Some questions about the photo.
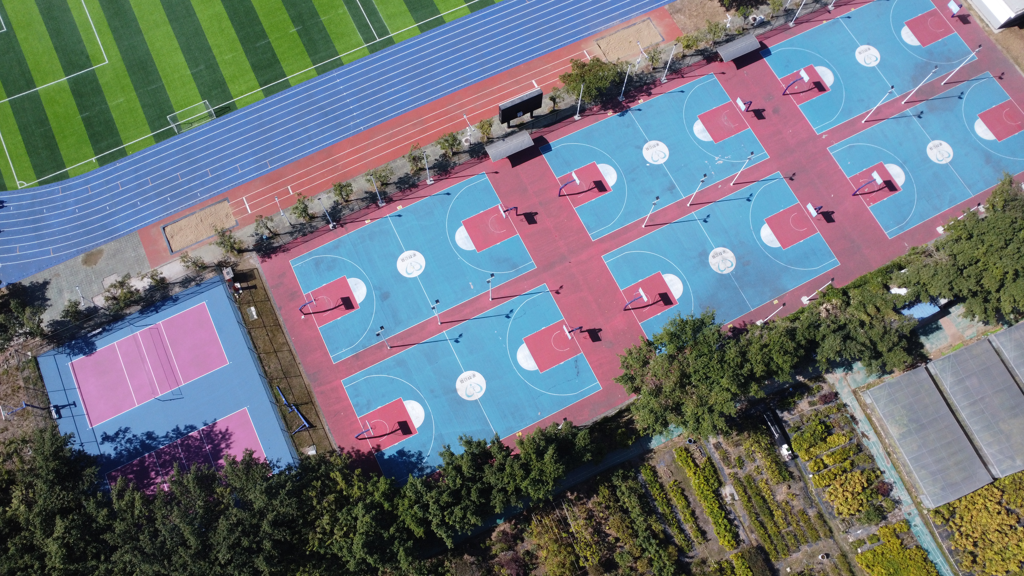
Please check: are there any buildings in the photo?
Yes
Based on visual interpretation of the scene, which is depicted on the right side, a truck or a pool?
truck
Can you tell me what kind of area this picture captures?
sports ground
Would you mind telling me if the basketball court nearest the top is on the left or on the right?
right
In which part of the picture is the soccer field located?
top left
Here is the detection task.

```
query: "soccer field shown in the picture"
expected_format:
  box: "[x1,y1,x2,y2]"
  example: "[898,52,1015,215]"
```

[0,0,502,191]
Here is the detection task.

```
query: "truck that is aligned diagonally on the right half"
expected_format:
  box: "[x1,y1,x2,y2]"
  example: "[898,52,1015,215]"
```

[759,409,796,461]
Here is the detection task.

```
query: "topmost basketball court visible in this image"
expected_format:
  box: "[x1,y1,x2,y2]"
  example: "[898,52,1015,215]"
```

[761,0,976,134]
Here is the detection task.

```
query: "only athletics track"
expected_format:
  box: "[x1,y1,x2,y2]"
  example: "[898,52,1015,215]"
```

[0,0,675,267]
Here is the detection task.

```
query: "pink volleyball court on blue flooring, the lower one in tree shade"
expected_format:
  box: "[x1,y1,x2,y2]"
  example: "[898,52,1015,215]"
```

[110,405,270,538]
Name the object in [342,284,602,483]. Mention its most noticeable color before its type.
blue basketball court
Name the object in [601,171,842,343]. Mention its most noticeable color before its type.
blue basketball court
